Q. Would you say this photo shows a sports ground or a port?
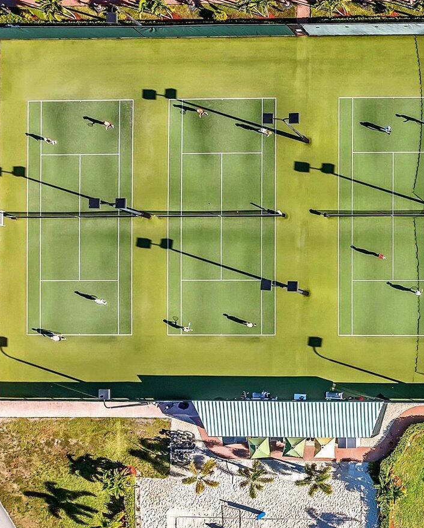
sports ground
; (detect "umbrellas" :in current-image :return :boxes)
[250,437,271,458]
[286,437,307,458]
[315,437,336,457]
